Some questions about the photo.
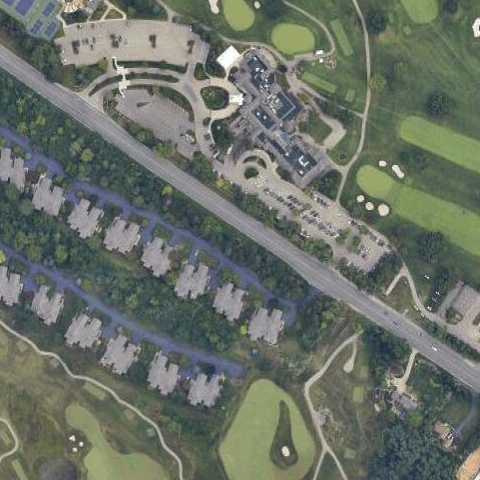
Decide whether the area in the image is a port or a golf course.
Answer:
golf course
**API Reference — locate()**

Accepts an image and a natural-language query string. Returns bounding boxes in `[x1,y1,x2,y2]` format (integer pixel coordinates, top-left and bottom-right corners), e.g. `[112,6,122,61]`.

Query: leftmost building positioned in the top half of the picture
[0,150,25,189]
